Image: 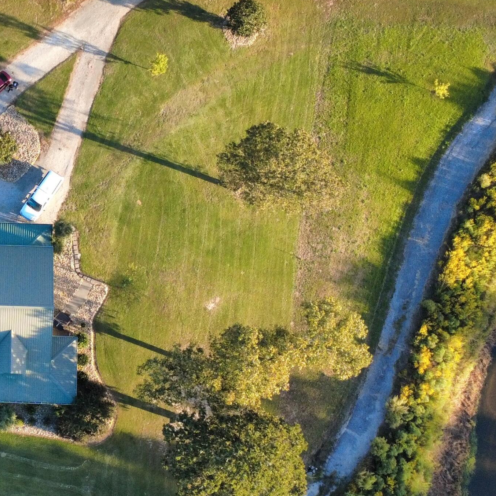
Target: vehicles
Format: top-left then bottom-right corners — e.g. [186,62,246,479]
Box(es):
[19,167,65,222]
[0,69,13,93]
